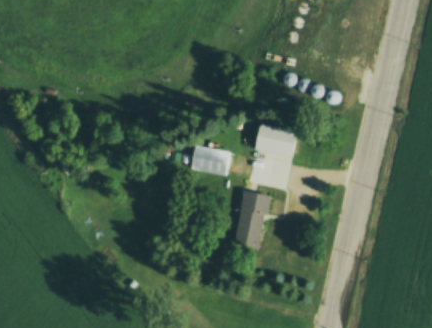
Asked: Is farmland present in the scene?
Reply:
Yes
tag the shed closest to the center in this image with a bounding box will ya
[191,146,232,176]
